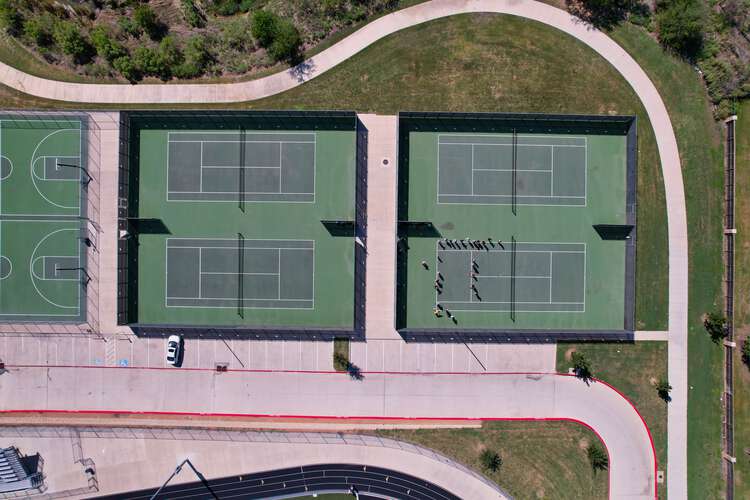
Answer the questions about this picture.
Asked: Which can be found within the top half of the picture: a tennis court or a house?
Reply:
tennis court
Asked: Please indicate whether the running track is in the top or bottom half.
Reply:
bottom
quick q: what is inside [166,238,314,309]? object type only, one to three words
tennis court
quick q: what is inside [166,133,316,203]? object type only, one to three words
tennis court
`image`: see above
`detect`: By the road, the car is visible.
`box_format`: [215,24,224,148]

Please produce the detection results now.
[163,335,179,366]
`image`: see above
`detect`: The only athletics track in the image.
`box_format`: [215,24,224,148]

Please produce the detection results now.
[79,463,459,500]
